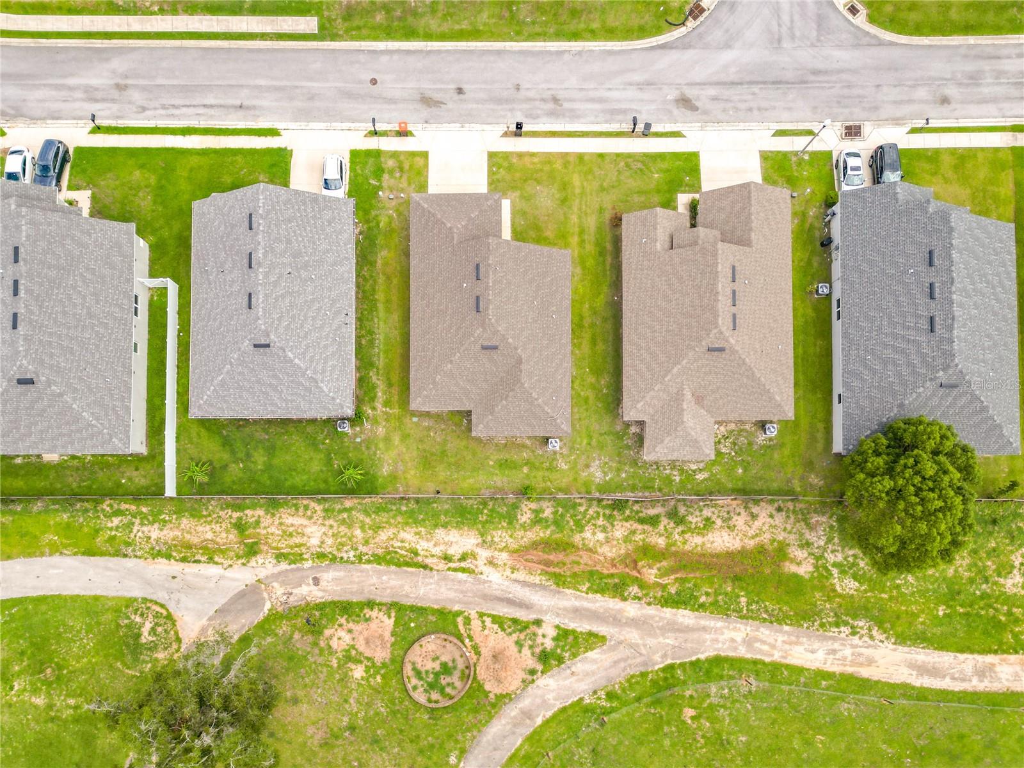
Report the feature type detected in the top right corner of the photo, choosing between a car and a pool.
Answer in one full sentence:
What appears in the top right corner of the photo is a car.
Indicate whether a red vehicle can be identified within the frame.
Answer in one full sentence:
No, I find no red vehicle anywhere in the image.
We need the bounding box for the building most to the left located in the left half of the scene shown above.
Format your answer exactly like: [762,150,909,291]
[0,180,148,455]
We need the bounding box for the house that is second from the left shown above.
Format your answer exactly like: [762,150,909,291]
[187,183,357,420]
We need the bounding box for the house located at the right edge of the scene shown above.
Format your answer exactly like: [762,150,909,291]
[829,181,1021,456]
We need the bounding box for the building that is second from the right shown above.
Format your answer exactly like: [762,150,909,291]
[622,183,795,461]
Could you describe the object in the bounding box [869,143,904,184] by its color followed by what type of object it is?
gray car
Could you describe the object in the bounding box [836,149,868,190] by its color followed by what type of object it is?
white car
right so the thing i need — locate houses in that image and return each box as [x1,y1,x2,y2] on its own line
[409,192,571,438]
[829,181,1021,456]
[0,180,148,455]
[622,183,795,461]
[187,183,357,420]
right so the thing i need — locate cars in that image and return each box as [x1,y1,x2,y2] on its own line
[1,146,36,184]
[869,143,904,184]
[836,149,868,190]
[322,153,350,198]
[31,139,72,195]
